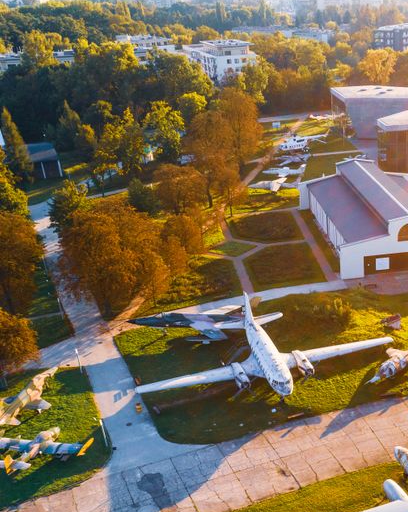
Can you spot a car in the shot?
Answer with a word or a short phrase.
No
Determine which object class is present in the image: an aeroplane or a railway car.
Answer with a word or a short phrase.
aeroplane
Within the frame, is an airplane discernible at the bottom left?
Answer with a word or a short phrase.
Yes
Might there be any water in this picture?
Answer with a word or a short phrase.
No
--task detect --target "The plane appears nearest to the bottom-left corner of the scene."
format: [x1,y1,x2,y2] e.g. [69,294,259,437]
[0,429,87,477]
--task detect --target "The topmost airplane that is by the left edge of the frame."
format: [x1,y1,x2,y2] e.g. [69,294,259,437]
[0,368,58,423]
